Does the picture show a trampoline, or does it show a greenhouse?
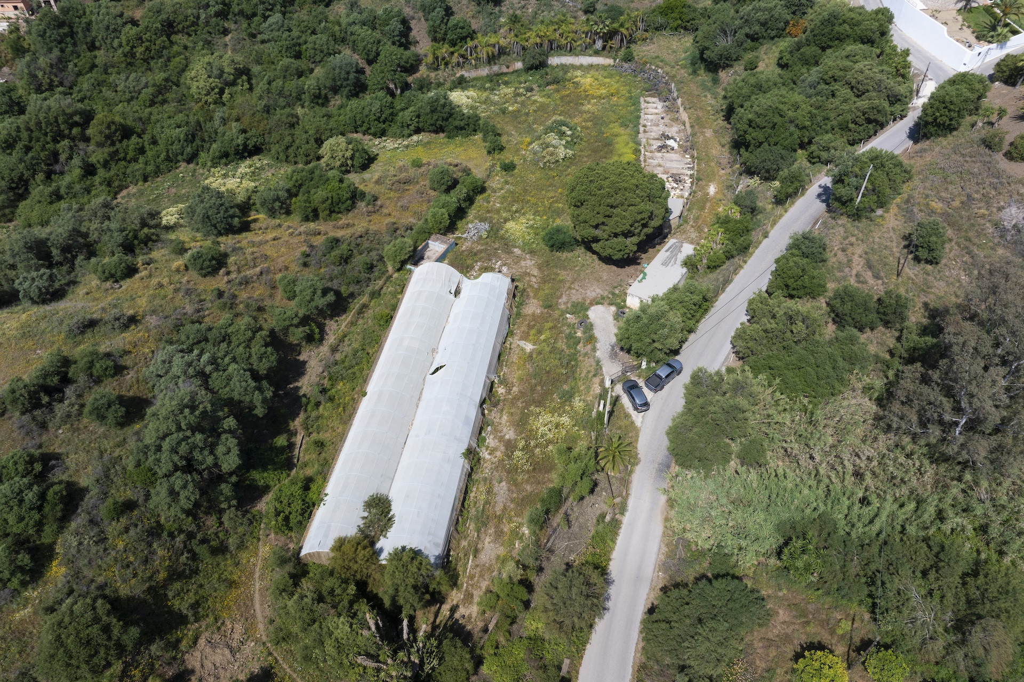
greenhouse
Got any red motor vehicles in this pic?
No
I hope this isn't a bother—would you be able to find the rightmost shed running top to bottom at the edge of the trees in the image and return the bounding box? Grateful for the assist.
[662,198,684,237]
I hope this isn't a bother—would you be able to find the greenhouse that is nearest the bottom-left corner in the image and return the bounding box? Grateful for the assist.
[300,263,519,577]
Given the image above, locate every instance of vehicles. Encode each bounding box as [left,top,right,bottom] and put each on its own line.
[621,376,652,412]
[641,356,687,393]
